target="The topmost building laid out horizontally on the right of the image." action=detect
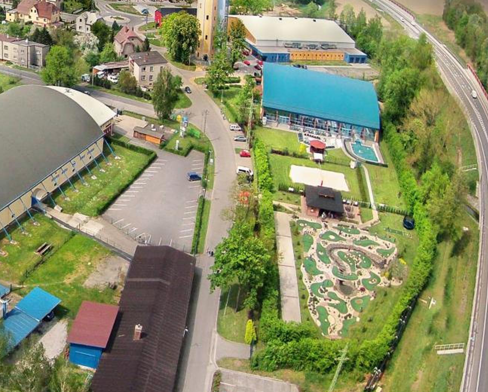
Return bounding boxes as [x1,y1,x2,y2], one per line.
[229,14,368,64]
